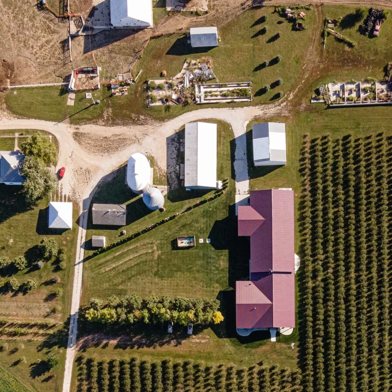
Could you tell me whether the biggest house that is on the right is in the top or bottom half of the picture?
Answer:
bottom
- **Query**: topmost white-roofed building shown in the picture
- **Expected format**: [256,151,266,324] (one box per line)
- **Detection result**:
[110,0,154,31]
